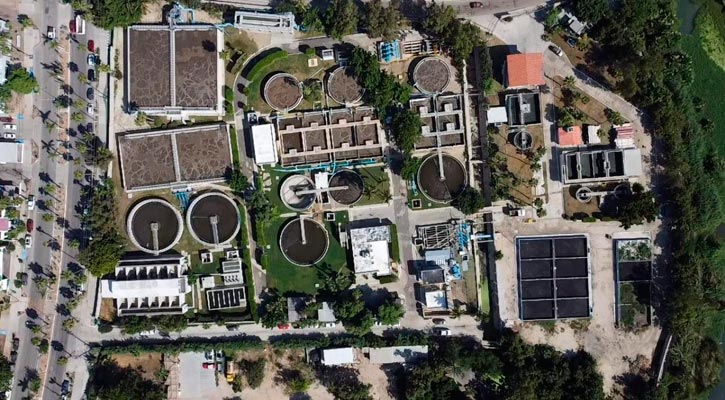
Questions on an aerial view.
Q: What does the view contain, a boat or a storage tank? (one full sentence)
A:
Of the two, only a storage tank appears.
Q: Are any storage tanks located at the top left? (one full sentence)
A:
Yes, the scene does show a storage tank at the top left.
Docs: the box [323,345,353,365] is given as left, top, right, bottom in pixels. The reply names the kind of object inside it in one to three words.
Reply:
shed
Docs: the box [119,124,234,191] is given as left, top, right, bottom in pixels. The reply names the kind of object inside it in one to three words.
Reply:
storage tank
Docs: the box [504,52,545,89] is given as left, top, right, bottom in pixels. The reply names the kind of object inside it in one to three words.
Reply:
house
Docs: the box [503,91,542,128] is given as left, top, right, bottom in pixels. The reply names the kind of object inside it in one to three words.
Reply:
storage tank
